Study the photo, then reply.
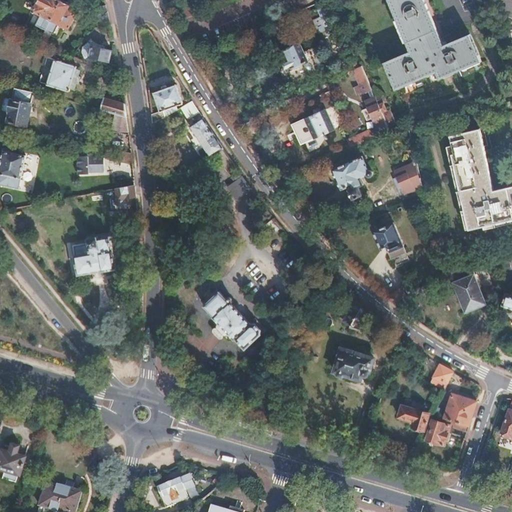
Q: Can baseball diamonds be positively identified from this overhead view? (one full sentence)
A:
No, I can see no baseball diamond in this picture.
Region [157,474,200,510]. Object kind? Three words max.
house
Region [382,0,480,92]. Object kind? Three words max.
building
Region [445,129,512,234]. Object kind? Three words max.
building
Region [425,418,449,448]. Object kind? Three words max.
house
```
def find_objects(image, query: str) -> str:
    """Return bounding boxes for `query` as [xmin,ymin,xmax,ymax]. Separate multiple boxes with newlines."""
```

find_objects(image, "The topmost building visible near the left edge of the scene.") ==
[24,0,76,33]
